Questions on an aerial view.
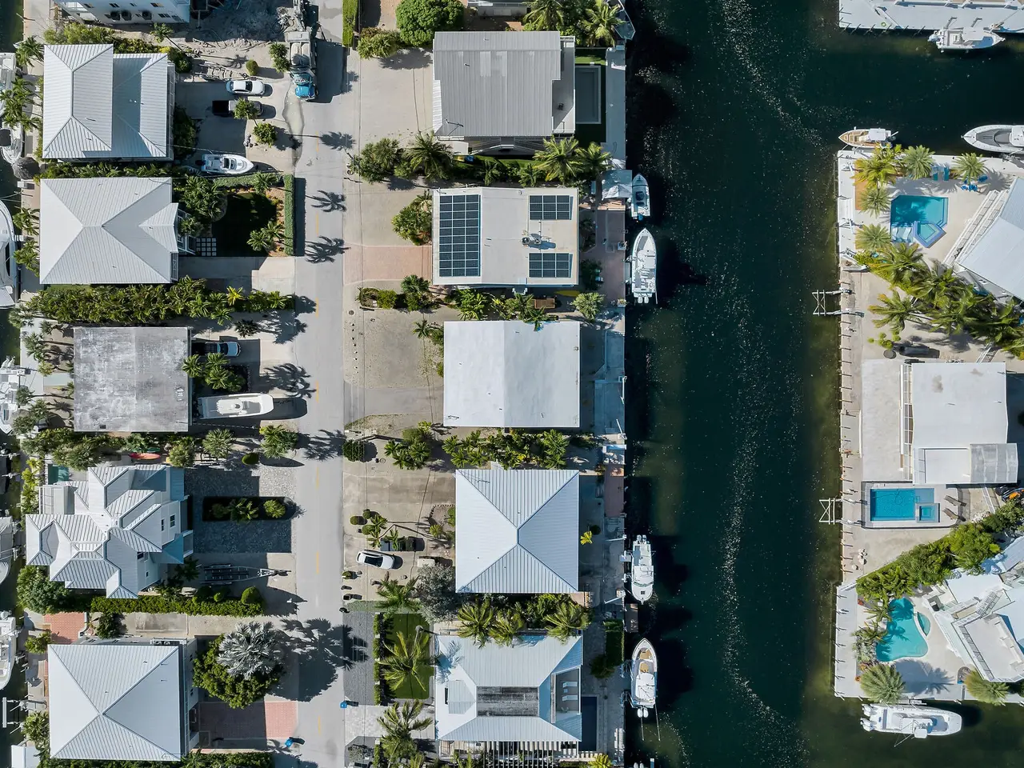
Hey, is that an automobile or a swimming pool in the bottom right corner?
swimming pool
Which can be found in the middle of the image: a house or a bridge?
house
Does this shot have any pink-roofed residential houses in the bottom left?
No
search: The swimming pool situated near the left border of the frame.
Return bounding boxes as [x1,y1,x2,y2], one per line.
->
[44,462,70,482]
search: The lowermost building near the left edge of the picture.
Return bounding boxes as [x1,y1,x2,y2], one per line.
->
[48,635,198,762]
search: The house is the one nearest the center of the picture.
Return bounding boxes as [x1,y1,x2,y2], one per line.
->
[443,322,580,427]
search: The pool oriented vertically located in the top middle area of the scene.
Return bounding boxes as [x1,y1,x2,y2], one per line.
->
[576,63,602,124]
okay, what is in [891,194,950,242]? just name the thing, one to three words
swimming pool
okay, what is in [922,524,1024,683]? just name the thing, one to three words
house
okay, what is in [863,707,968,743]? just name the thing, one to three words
boat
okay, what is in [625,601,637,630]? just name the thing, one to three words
pier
